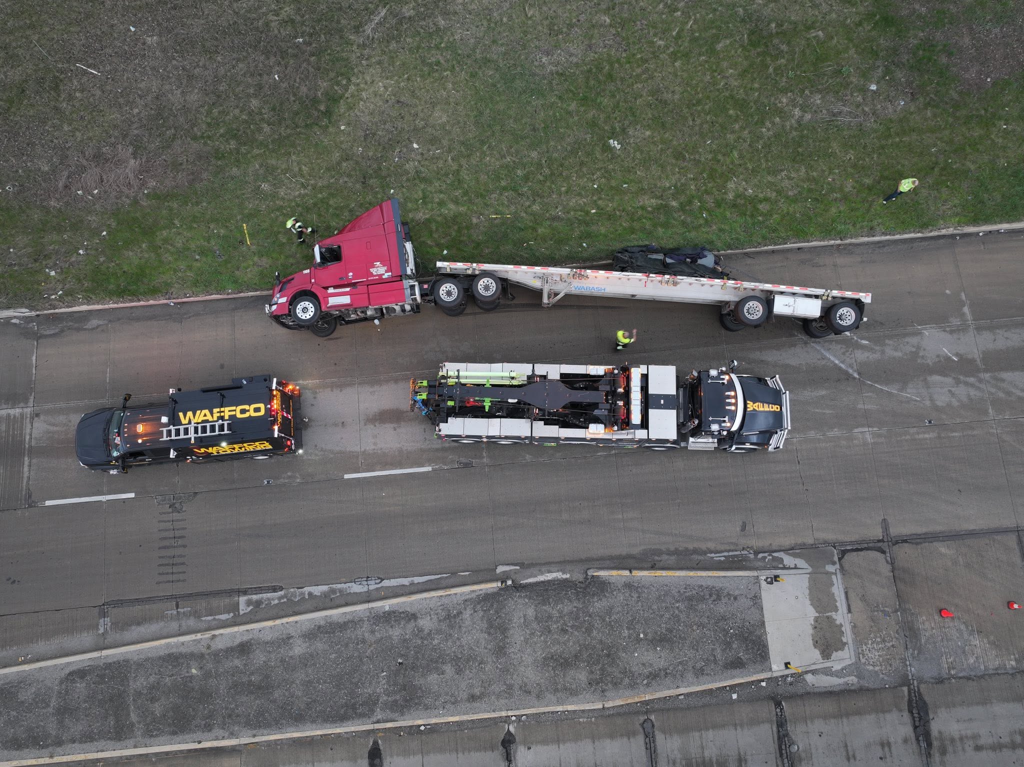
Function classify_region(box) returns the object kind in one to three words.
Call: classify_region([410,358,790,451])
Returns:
truck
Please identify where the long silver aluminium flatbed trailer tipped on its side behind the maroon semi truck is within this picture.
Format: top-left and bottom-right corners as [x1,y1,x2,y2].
[434,261,874,343]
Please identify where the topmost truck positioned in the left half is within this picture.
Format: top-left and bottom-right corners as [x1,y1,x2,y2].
[263,198,509,337]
